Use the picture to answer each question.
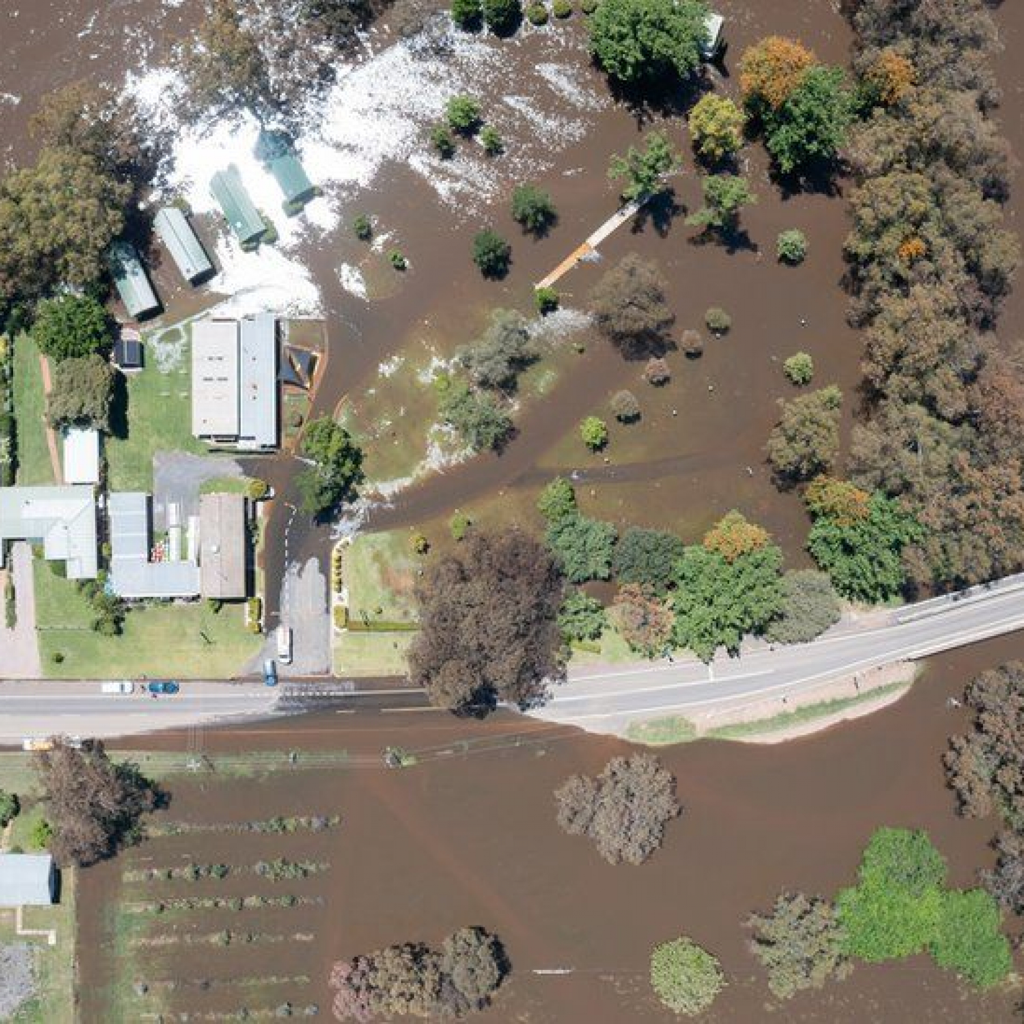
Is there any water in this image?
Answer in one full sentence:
Yes, there is water in the image.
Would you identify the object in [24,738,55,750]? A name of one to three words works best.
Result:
vehicle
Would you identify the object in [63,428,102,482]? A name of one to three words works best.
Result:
shed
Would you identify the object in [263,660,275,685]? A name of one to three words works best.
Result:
vehicle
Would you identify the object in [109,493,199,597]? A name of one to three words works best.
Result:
house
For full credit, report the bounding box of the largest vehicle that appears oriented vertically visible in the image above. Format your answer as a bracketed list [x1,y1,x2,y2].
[277,626,291,662]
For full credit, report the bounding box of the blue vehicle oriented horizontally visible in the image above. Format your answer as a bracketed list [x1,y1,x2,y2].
[149,681,178,694]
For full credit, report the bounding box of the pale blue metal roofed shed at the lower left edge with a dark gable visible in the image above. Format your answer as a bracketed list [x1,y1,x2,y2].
[0,851,57,904]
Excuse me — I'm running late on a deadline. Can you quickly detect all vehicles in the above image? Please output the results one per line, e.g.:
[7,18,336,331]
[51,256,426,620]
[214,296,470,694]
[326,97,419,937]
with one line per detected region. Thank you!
[277,626,291,662]
[24,738,55,750]
[263,660,275,685]
[149,681,178,694]
[100,681,134,693]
